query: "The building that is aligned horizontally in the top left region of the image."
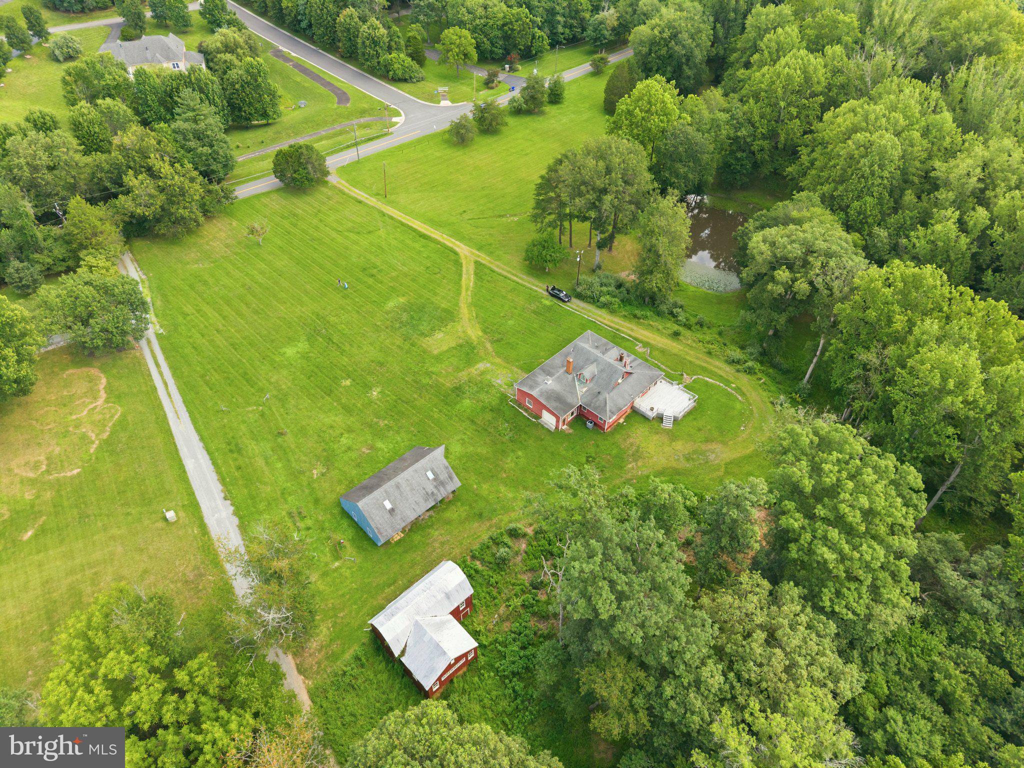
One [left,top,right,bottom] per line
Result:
[102,33,209,80]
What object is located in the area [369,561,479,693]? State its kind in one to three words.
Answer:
barn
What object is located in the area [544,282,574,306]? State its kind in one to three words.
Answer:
car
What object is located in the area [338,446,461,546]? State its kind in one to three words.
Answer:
barn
